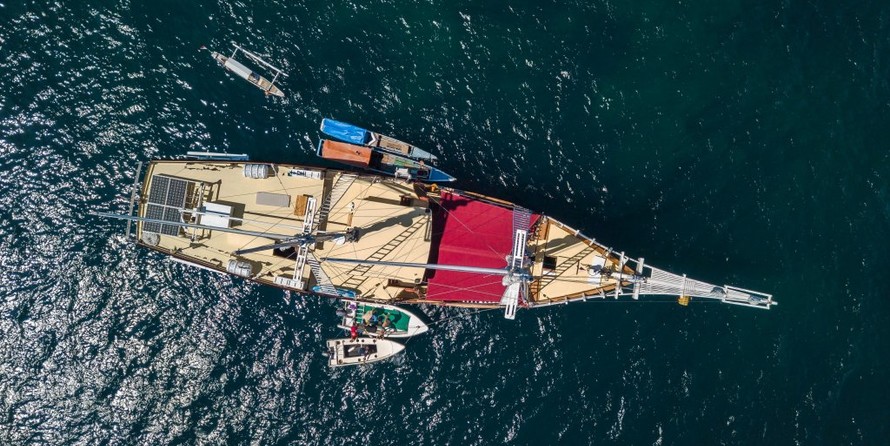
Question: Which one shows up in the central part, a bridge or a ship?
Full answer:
The feature located in the central part is a ship.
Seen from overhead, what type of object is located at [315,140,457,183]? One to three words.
boat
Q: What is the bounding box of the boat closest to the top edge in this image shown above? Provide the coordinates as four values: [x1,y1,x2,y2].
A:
[203,43,289,97]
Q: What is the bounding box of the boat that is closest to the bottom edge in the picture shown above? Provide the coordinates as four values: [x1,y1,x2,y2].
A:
[321,338,407,367]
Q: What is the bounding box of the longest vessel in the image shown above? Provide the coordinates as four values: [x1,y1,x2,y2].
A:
[89,158,778,320]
